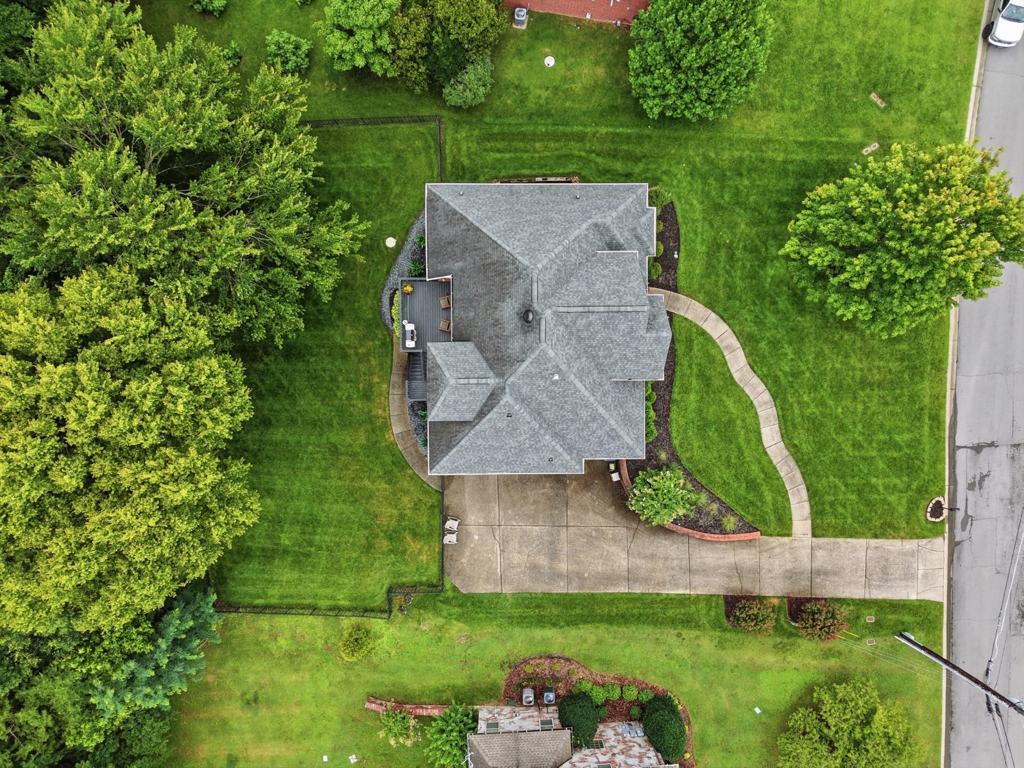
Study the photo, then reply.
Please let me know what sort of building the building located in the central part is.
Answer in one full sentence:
I'd say the building located in the central part is a house.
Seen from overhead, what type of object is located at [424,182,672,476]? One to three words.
house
